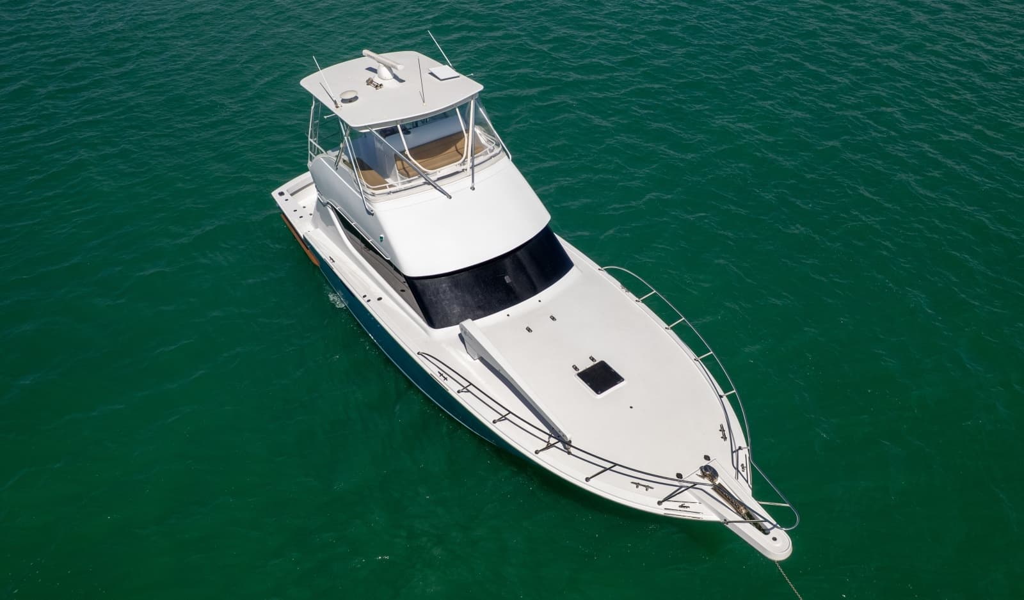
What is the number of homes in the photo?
0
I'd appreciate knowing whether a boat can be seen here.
Yes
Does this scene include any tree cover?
No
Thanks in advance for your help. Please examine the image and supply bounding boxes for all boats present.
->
[271,29,799,560]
